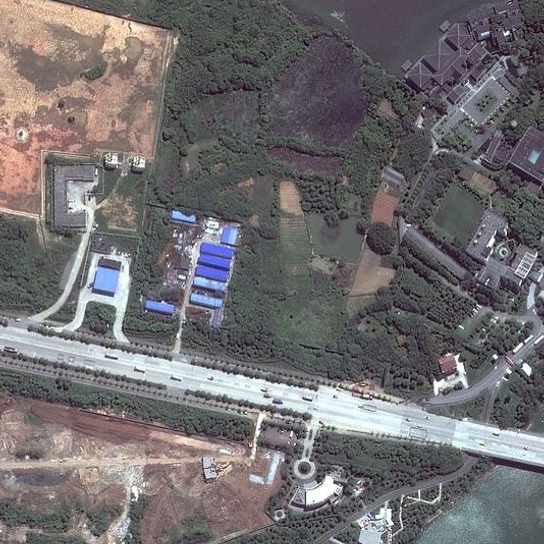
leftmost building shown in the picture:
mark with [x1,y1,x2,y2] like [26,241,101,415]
[54,165,96,230]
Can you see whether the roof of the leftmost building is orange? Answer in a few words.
No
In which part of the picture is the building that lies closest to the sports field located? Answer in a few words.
right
